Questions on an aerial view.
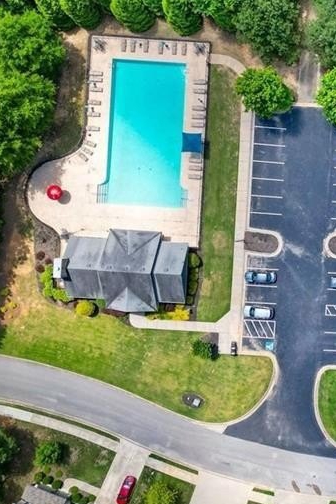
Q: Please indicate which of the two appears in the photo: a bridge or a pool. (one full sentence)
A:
I can see a pool in this picture.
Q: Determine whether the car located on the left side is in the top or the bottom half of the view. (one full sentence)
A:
The bottom half of the photo is where the car located on the left side is.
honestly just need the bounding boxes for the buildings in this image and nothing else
[13,481,75,504]
[51,230,194,312]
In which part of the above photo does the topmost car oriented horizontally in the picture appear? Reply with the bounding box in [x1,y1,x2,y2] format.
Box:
[246,270,277,284]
